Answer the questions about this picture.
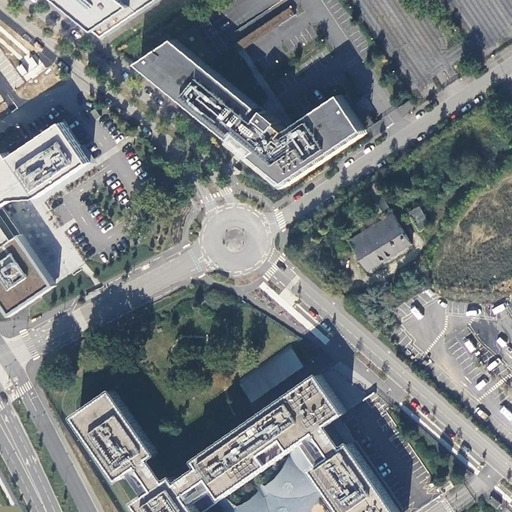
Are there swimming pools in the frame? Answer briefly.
No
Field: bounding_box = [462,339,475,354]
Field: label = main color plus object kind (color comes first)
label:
white vehicle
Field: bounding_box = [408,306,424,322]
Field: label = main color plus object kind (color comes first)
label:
white vehicle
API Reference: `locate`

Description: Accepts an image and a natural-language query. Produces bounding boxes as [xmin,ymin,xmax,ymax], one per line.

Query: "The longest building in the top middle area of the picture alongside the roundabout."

[131,40,368,190]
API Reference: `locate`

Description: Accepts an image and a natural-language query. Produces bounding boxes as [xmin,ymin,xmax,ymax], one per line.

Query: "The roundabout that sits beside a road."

[198,203,273,278]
